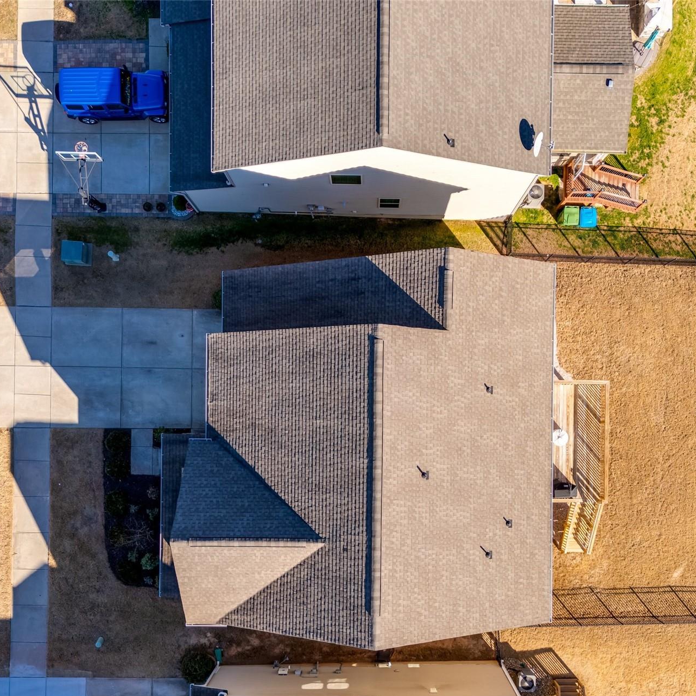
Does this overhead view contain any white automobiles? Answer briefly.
No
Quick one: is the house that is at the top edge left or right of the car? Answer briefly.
on its right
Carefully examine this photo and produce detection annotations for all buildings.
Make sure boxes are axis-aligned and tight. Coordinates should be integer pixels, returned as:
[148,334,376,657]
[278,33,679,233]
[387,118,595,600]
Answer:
[187,646,522,696]
[159,0,635,223]
[157,248,557,653]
